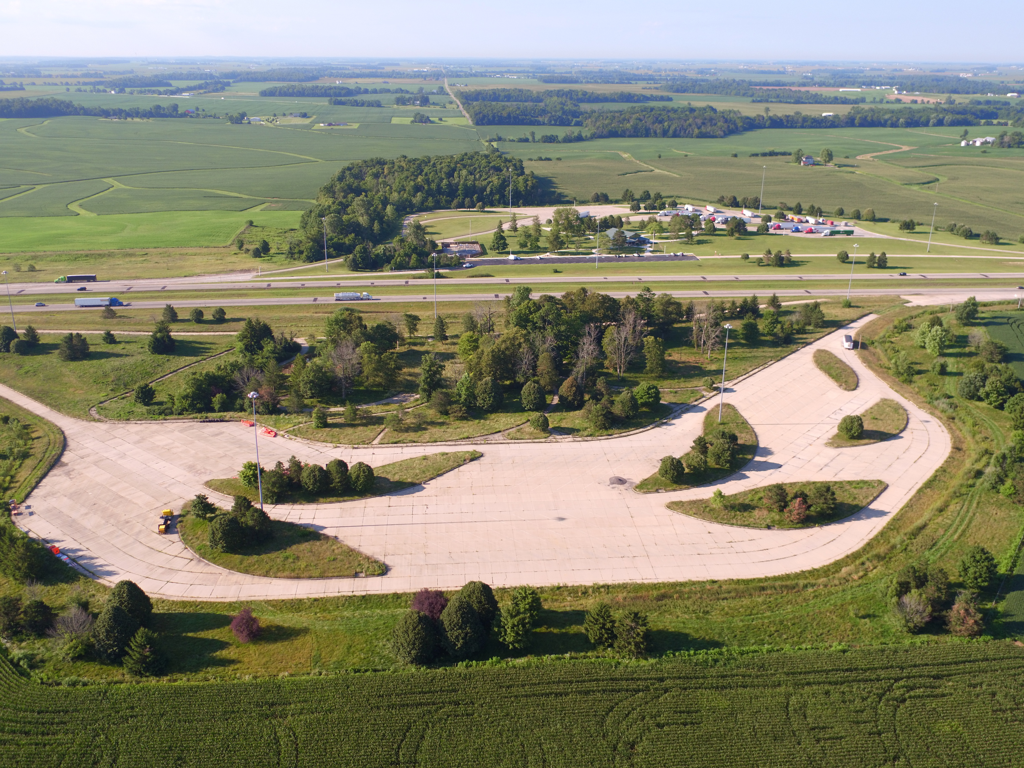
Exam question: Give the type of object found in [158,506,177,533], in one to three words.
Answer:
vehicle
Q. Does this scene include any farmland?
Yes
